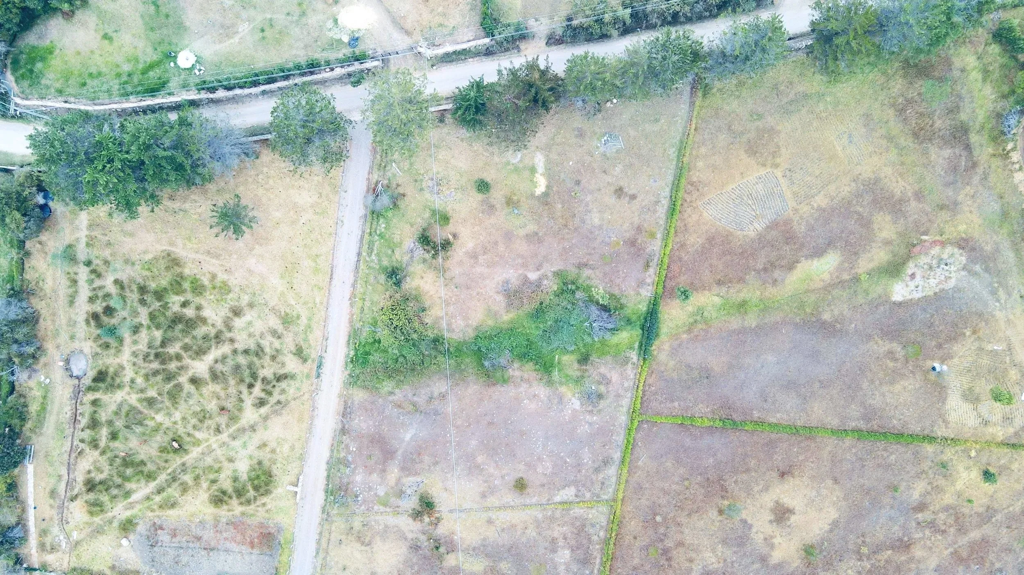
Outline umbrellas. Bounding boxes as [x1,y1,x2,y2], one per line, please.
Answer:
[178,50,197,70]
